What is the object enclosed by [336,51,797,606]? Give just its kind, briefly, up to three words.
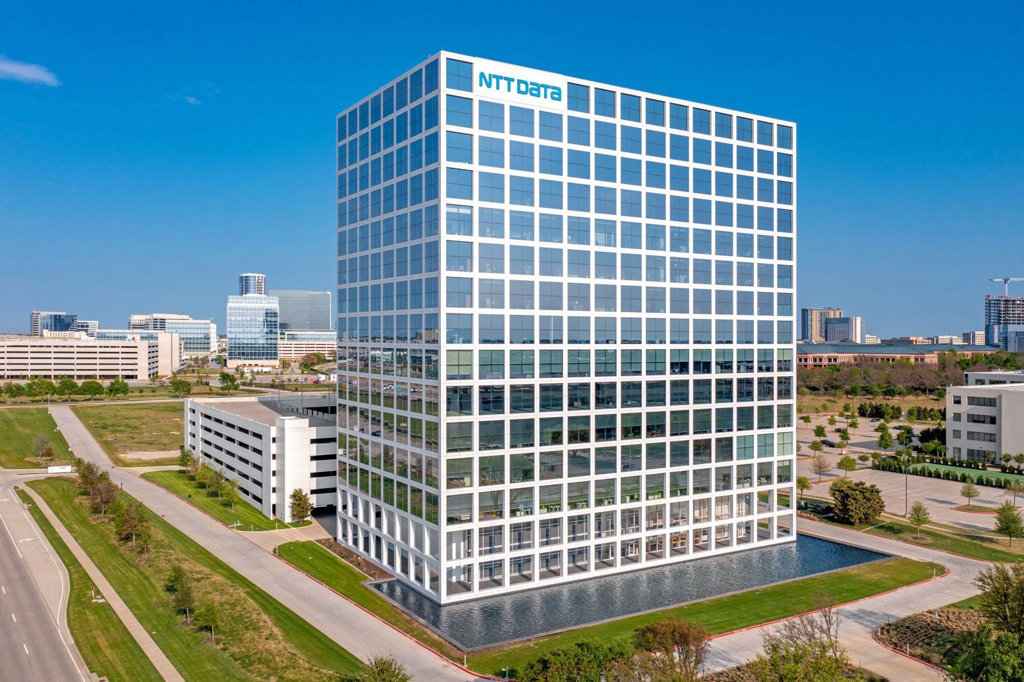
building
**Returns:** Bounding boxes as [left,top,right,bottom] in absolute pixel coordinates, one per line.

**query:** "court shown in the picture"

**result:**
[900,462,1024,492]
